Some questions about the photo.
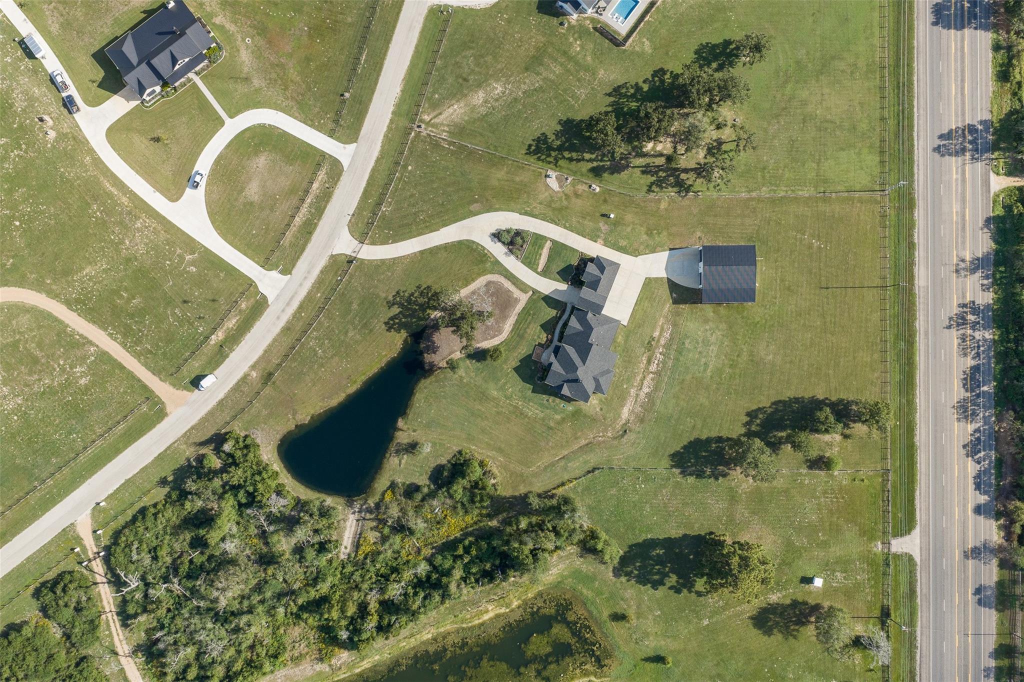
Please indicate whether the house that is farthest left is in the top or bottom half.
top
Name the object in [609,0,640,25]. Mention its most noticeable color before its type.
blue swimming pool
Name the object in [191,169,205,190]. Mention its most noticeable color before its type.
white vehicle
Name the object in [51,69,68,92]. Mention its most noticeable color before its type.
white vehicle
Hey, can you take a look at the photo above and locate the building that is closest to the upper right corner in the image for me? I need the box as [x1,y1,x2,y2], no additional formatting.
[699,245,763,303]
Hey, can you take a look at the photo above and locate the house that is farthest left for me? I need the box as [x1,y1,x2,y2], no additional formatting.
[104,0,215,99]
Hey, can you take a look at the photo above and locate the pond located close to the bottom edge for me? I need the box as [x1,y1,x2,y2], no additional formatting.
[358,585,619,682]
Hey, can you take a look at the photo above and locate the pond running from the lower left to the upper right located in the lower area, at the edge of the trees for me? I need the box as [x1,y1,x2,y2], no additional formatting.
[277,325,434,497]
